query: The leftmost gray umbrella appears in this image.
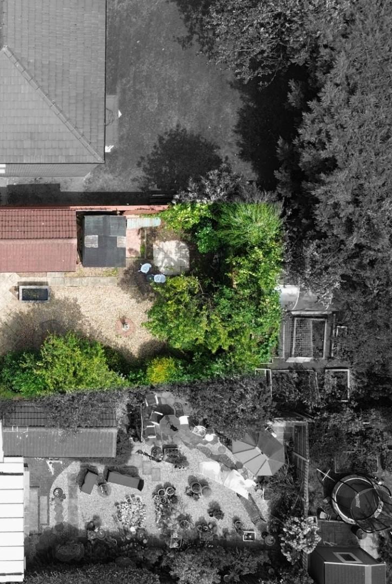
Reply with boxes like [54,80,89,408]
[234,428,286,478]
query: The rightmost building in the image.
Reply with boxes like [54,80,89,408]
[307,548,386,584]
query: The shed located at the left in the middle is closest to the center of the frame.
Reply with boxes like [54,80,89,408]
[82,216,128,266]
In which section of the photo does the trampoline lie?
bottom right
